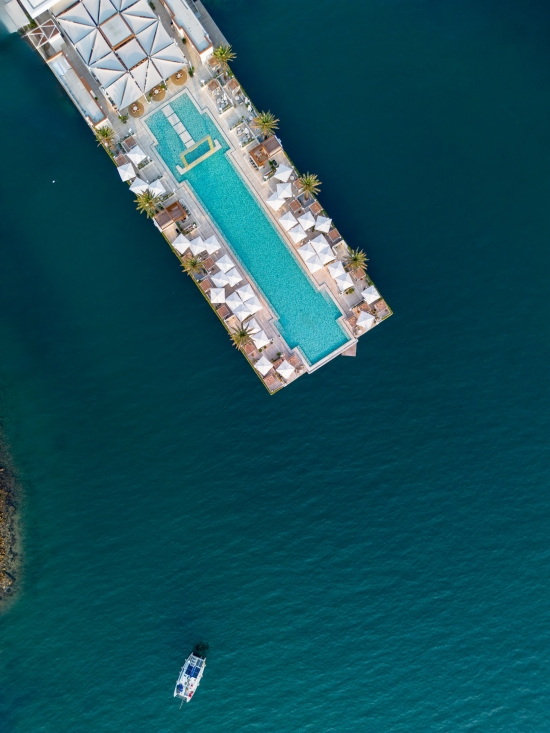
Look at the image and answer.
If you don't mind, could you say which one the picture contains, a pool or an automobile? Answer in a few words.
pool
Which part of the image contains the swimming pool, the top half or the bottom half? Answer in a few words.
top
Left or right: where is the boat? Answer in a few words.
left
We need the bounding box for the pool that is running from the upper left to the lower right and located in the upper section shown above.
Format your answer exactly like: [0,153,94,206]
[139,87,357,374]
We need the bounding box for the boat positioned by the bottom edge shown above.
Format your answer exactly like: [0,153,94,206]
[170,652,208,710]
